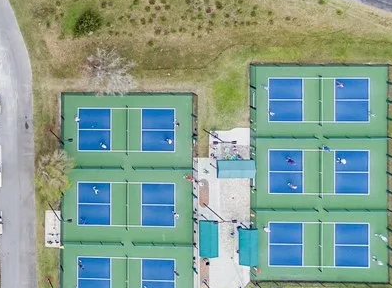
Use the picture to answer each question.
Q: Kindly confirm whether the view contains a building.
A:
No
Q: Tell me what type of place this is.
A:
sports ground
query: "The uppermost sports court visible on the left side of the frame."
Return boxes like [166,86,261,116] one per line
[65,95,193,169]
